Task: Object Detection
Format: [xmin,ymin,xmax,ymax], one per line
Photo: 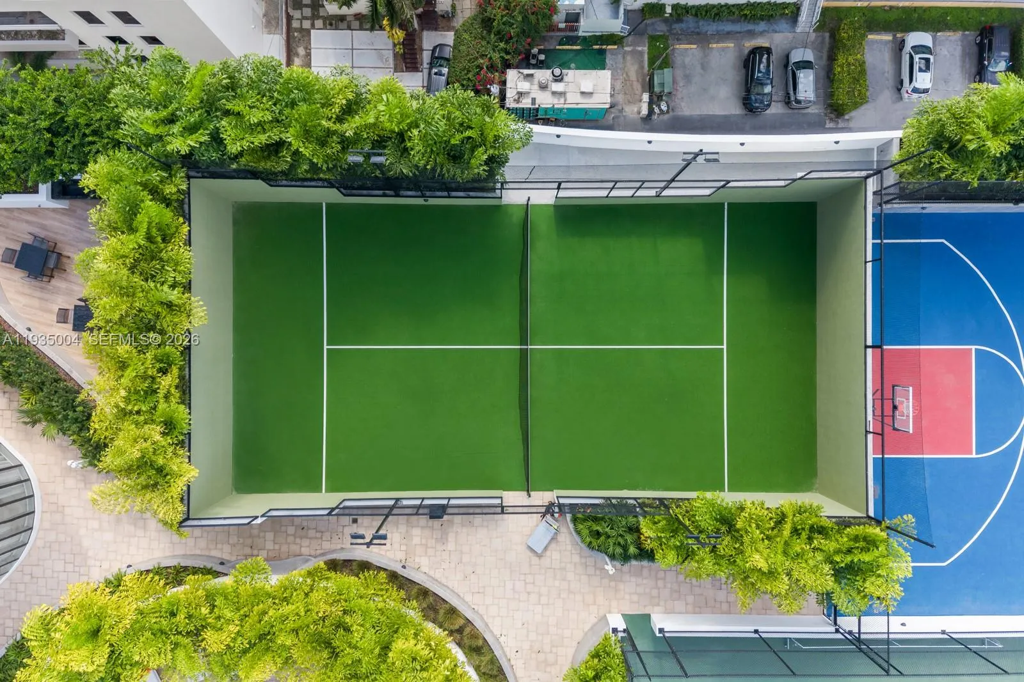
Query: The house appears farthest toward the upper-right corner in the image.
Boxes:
[577,0,632,34]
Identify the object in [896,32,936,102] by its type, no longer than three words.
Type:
car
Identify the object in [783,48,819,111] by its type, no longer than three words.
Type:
car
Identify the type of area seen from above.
sports ground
